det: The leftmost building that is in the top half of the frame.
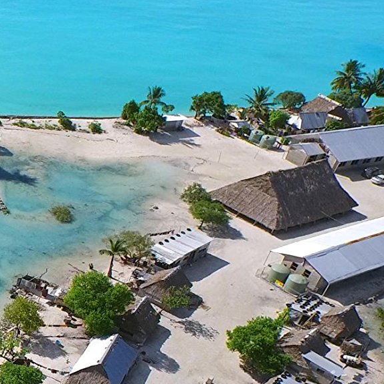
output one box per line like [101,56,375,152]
[153,110,183,132]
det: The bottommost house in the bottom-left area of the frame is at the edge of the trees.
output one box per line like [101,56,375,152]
[65,331,138,384]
